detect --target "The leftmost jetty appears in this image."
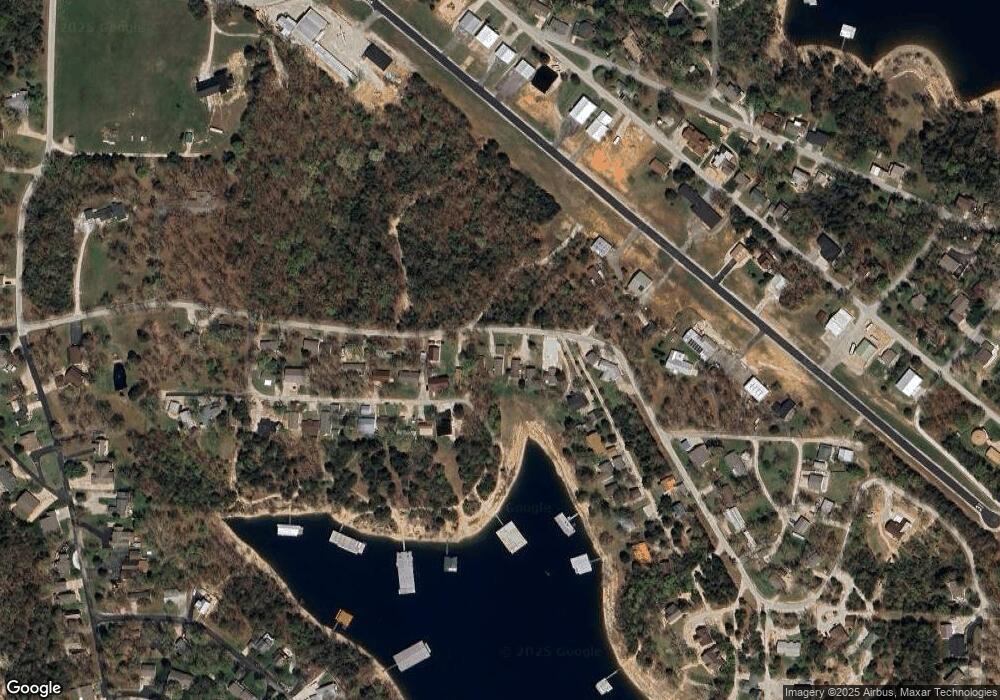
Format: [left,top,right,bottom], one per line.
[277,509,305,537]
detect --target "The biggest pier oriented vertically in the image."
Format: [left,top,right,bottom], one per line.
[396,537,414,595]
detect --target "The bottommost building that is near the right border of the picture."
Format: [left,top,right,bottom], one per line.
[945,672,970,696]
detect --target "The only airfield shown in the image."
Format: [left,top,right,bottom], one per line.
[354,0,1000,531]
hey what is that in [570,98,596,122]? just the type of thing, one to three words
hangar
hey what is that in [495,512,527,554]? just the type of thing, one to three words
pier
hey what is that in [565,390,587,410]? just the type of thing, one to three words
house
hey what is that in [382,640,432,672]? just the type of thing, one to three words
pier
